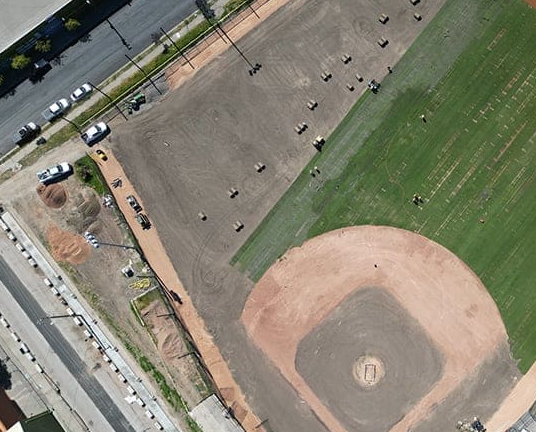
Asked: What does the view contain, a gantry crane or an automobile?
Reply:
automobile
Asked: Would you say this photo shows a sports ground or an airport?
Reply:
sports ground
